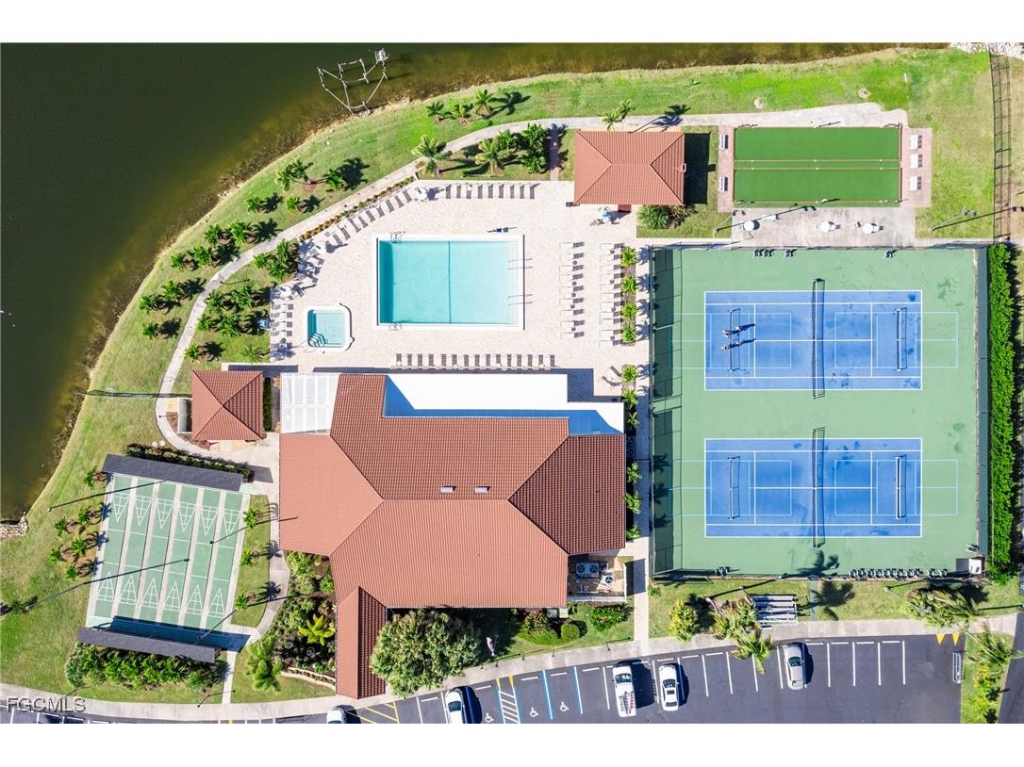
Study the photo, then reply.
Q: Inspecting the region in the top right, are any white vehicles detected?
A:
No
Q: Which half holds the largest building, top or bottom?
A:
bottom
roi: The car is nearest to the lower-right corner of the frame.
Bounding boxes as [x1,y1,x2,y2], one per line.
[781,642,805,688]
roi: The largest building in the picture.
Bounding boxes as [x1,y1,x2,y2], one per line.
[279,373,626,699]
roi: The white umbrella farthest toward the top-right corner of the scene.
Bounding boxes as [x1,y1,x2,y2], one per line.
[598,209,612,223]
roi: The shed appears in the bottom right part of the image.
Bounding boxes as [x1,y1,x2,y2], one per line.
[961,559,986,579]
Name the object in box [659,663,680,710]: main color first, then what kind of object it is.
white car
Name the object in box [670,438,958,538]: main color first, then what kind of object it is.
blue tennis court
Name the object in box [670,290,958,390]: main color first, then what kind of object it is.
blue tennis court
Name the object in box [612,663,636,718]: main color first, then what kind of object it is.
white vehicle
